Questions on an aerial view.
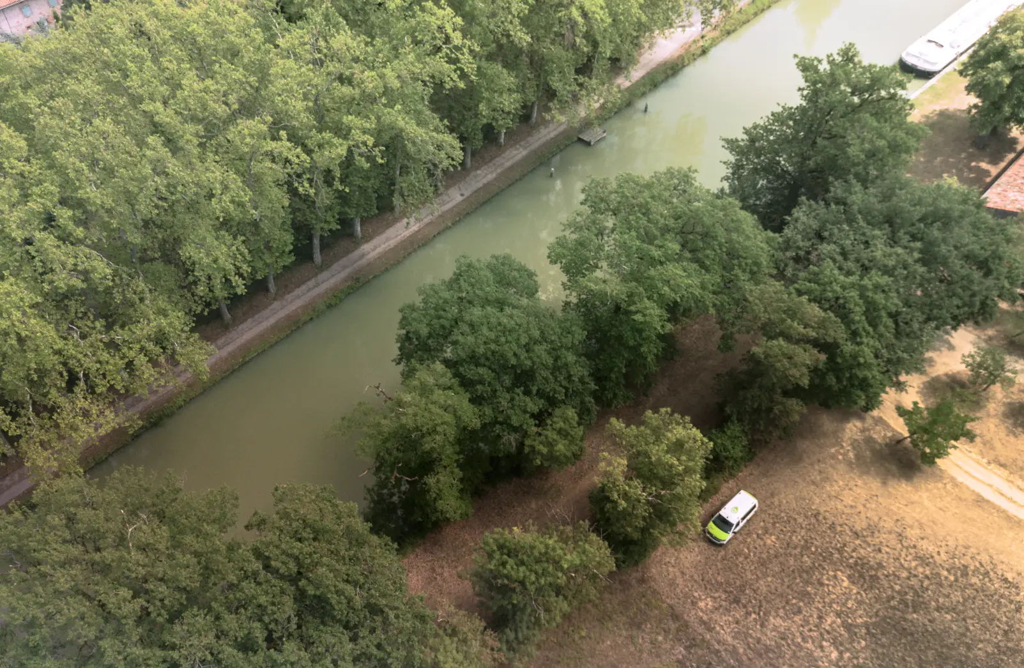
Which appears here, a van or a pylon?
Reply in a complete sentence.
Visible in the photo is a van.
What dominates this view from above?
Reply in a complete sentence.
The scene is dominated by trees.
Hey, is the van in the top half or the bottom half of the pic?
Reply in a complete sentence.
The van sits in the bottom half of the picture.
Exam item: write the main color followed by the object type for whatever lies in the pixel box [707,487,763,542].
white van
